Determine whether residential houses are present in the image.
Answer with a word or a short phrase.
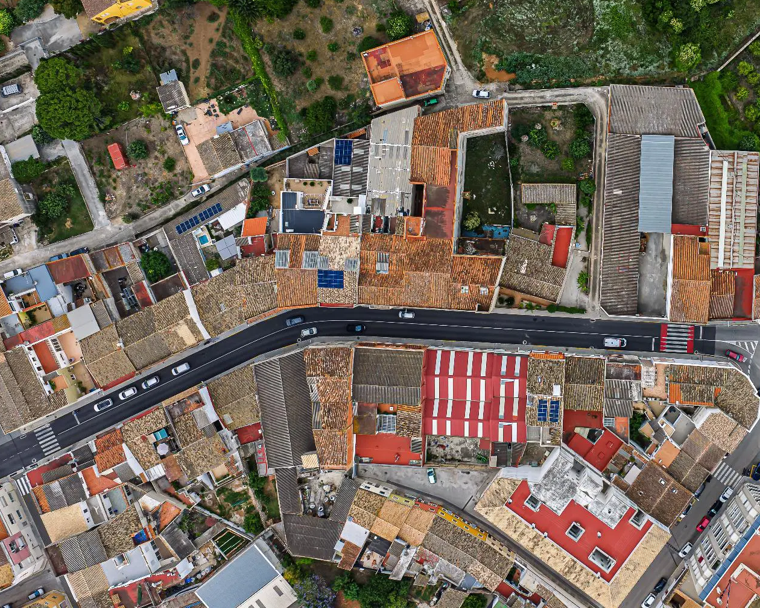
Yes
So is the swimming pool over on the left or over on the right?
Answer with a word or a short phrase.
left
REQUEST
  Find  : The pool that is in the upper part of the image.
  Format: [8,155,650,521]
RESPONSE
[192,225,215,245]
